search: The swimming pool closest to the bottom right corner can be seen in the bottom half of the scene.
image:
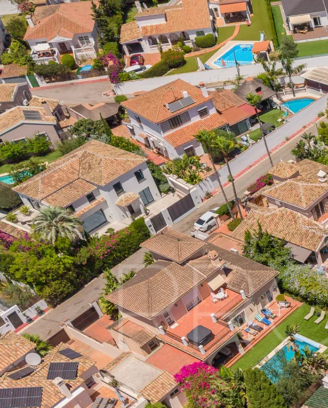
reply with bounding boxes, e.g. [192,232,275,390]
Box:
[257,332,327,389]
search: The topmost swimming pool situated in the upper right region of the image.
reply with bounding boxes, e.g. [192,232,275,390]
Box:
[204,41,273,67]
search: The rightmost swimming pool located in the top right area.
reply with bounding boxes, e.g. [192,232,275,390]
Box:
[279,96,317,116]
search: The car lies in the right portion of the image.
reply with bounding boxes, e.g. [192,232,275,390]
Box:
[190,205,223,229]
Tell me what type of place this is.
residential area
